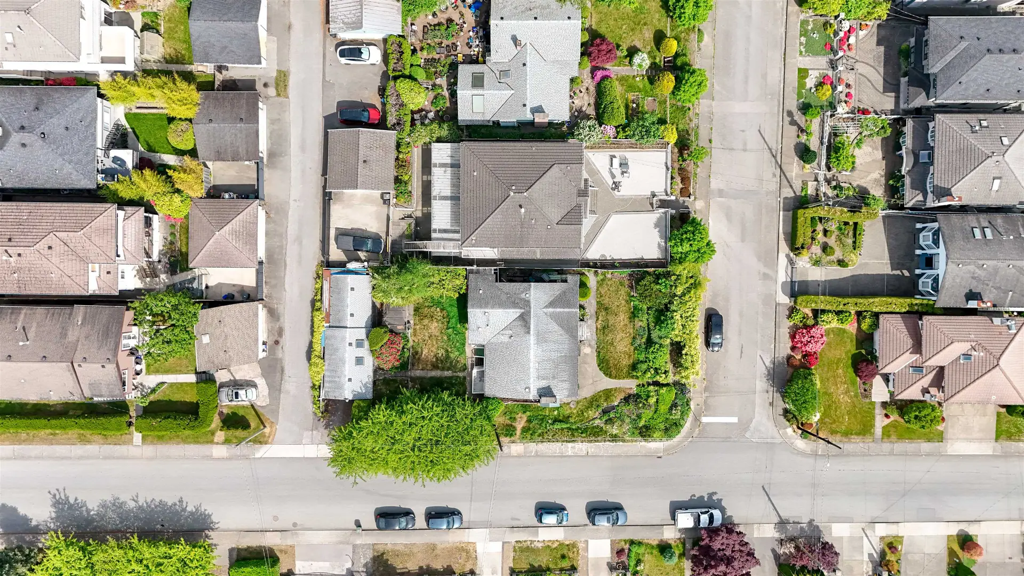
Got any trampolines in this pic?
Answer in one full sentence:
No, no trampoline is visible in the scene.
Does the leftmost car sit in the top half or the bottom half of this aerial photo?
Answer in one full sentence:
It is in the bottom half that the leftmost car appears.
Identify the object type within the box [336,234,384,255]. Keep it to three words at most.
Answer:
truck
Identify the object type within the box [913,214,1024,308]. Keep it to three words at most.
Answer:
house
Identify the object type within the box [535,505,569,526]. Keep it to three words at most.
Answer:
car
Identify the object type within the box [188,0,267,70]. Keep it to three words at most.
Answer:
building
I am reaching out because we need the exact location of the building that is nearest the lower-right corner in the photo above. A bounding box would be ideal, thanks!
[869,314,1024,404]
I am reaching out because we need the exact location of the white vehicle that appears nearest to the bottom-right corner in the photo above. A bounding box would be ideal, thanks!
[674,506,721,530]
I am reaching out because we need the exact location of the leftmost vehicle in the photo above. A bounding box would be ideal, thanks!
[219,385,259,405]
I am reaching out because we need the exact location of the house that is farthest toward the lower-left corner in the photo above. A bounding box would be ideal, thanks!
[0,304,137,401]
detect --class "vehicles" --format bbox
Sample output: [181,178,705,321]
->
[219,385,259,405]
[336,234,384,255]
[535,505,569,526]
[674,506,721,530]
[704,312,725,353]
[338,104,382,127]
[376,510,416,531]
[588,505,627,527]
[425,509,463,531]
[335,43,381,66]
